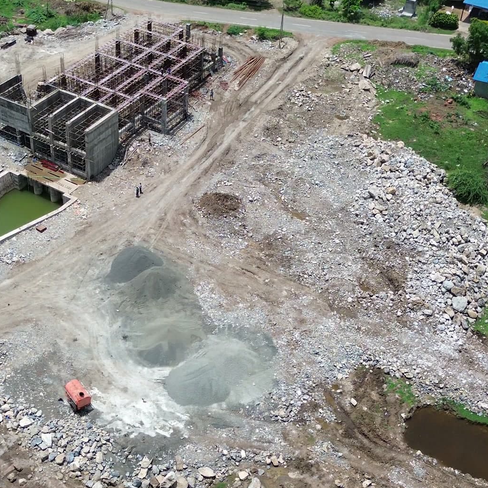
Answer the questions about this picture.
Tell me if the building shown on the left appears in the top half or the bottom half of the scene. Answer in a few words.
top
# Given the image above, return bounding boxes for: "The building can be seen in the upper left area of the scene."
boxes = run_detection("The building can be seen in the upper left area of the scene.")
[0,14,225,177]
